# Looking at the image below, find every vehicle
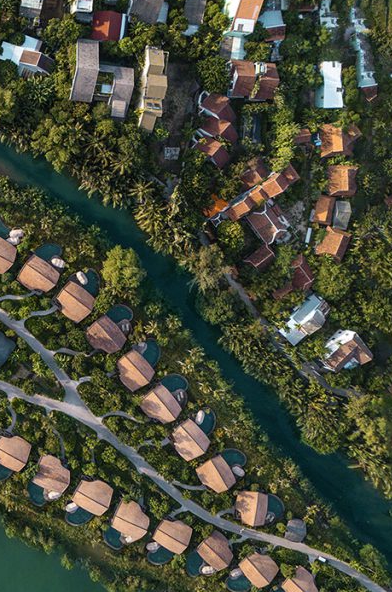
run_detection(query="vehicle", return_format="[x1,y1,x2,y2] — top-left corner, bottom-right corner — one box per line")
[305,227,314,241]
[316,554,328,563]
